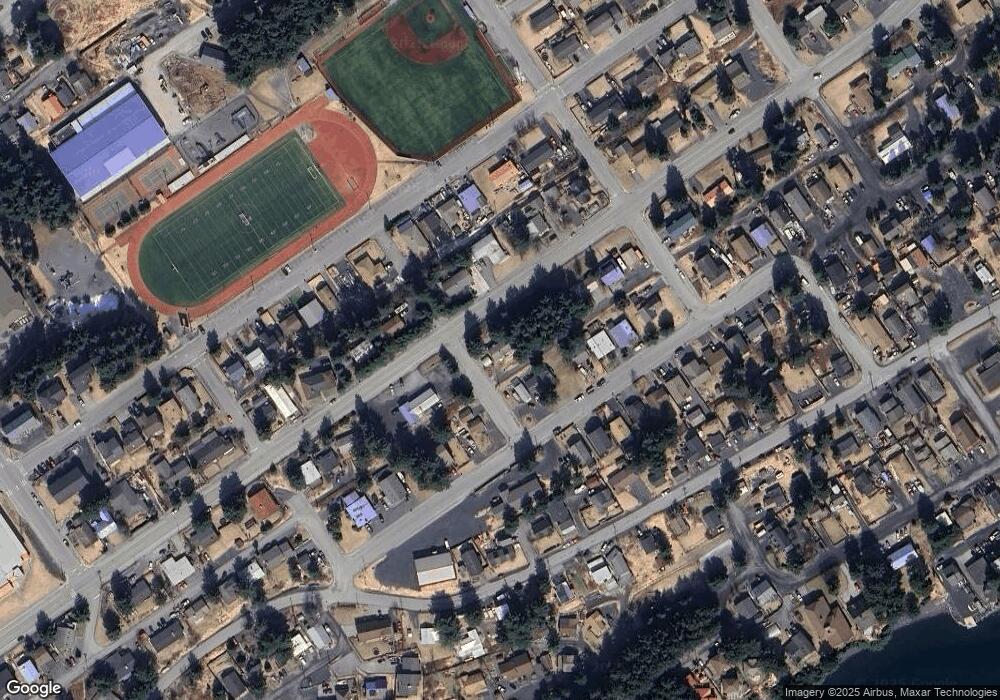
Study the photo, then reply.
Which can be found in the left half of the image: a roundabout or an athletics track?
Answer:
athletics track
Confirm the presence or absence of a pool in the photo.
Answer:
No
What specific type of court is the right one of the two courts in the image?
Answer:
basketball court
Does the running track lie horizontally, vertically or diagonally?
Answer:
diagonally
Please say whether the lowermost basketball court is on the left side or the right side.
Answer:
left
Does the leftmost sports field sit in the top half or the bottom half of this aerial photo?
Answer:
top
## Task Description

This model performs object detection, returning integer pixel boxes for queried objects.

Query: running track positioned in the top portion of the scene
[118,99,376,319]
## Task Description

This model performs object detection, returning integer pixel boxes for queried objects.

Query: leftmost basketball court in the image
[82,180,141,236]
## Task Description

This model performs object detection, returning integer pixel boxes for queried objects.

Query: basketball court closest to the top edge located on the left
[130,149,187,201]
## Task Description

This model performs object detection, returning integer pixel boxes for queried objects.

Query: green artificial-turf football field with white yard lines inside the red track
[139,129,347,307]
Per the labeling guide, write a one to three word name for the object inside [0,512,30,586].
building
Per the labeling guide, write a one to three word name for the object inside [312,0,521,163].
baseball field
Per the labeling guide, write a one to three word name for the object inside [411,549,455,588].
shed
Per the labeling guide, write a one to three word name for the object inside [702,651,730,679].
house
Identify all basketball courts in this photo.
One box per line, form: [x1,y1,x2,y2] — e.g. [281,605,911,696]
[82,180,141,236]
[130,149,187,201]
